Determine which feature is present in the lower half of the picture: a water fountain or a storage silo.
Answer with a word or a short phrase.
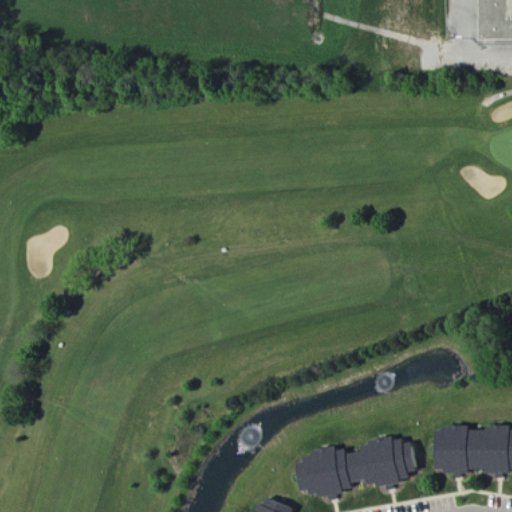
water fountain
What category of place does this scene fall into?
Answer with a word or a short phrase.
golf course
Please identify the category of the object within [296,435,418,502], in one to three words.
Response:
house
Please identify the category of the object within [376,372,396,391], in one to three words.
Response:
fountain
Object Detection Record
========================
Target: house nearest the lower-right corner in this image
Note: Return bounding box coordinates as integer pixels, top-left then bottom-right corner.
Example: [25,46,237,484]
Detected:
[434,425,512,480]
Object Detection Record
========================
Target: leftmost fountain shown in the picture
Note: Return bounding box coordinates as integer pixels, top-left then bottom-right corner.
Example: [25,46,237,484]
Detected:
[238,424,262,454]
